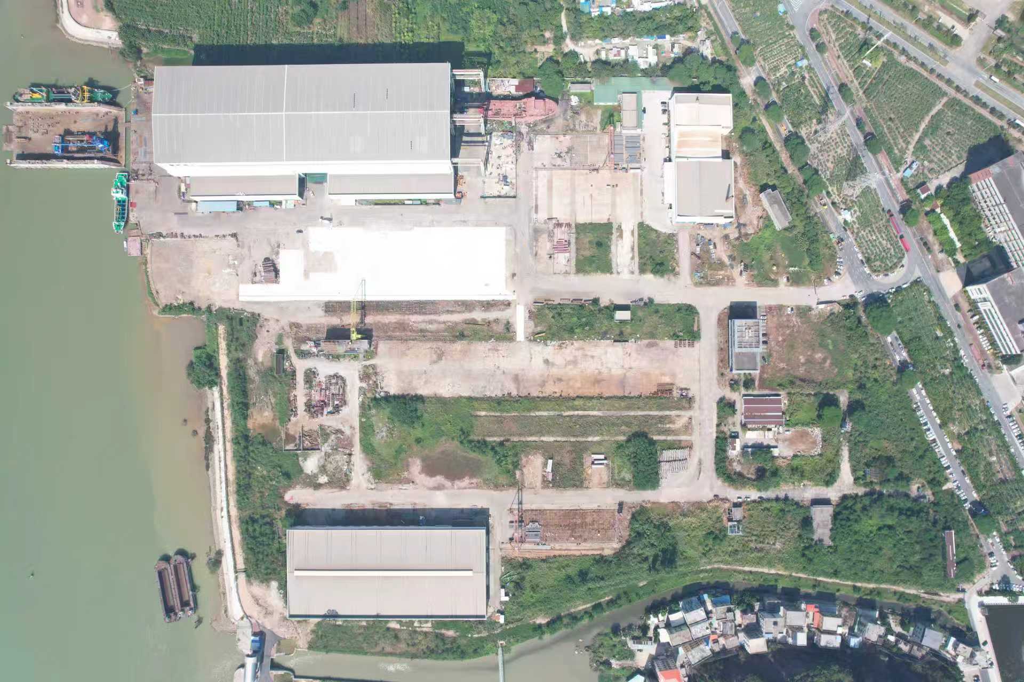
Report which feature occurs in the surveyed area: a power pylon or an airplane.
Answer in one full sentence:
This aerial view contains a power pylon.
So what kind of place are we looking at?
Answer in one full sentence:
The area seen from above is a port.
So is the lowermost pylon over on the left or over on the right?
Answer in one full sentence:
You can find the lowermost pylon on the right side of the picture.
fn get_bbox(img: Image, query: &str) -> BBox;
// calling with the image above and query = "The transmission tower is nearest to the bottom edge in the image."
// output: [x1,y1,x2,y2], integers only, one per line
[839,173,883,201]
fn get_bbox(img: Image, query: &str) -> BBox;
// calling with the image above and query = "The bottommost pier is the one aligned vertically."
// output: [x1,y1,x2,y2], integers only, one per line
[128,213,142,256]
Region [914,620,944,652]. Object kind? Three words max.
house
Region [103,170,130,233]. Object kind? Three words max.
ship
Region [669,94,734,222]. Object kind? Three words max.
building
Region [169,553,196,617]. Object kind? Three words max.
ship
